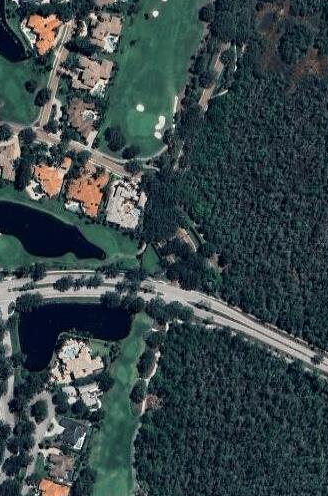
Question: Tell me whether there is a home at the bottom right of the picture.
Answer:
No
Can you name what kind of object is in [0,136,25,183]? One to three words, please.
house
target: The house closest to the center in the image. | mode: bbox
[102,179,152,233]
